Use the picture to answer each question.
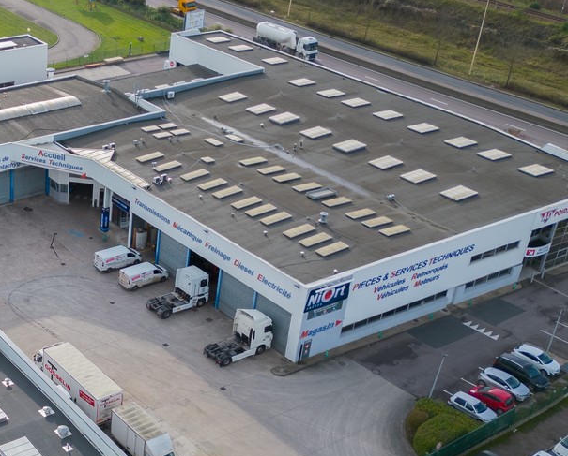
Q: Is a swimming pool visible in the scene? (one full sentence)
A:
No, this view has no swimming pool in it.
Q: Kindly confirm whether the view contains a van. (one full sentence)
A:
Yes, a van is visible in the scene.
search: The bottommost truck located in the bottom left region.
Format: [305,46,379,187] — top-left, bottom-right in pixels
[110,402,173,456]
